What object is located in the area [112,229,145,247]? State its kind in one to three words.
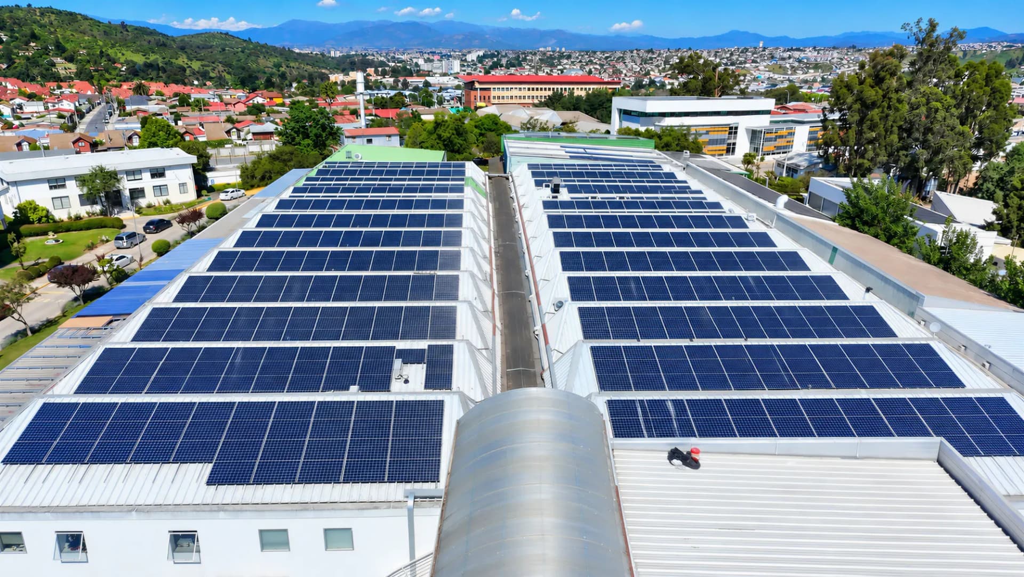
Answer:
car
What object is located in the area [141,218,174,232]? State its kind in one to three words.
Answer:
car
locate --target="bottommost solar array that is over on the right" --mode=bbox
[607,397,1024,454]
